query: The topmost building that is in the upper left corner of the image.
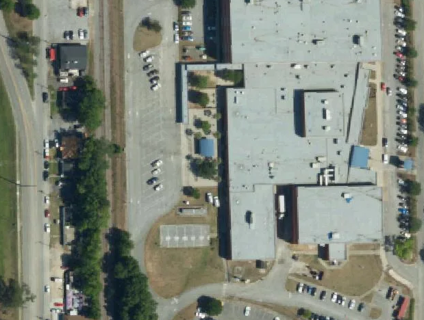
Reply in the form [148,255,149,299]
[57,45,87,70]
